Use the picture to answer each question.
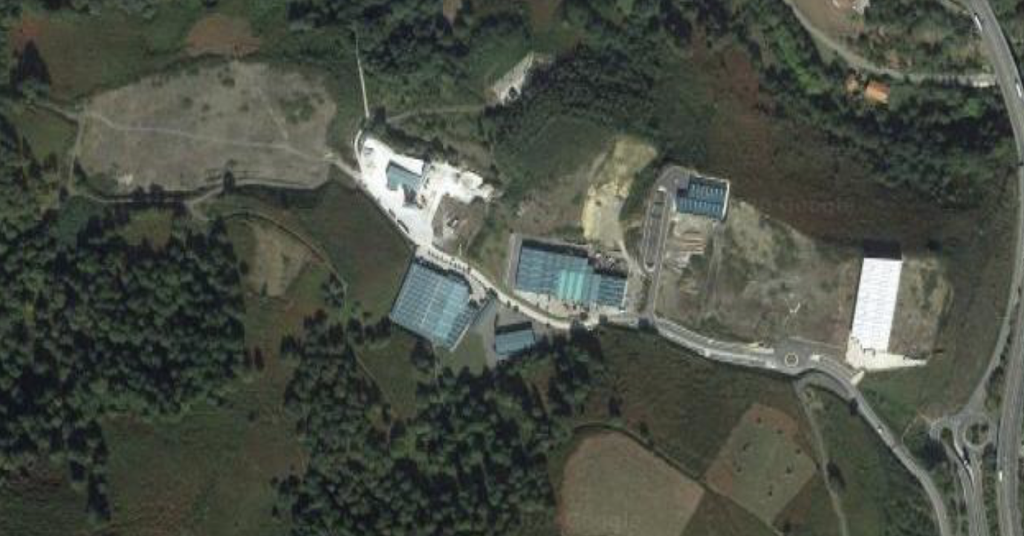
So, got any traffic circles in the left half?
No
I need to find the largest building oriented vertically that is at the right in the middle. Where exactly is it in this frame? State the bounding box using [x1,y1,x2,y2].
[851,258,903,359]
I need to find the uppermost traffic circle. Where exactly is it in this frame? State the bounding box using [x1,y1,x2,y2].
[769,338,817,378]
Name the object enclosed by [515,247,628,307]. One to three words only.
building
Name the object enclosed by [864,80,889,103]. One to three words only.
house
